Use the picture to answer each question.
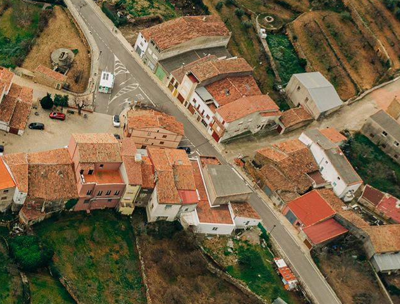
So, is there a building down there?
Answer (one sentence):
Yes, the image includes a building.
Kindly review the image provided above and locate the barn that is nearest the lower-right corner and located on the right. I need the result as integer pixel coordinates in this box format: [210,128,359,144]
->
[348,222,400,280]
